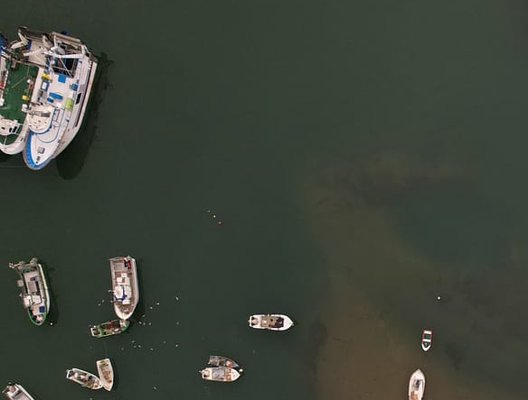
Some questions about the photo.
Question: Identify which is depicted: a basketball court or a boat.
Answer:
boat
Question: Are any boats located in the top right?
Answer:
No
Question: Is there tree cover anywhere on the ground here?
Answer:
No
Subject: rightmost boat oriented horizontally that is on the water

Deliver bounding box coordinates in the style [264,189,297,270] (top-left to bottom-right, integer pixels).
[243,314,293,331]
